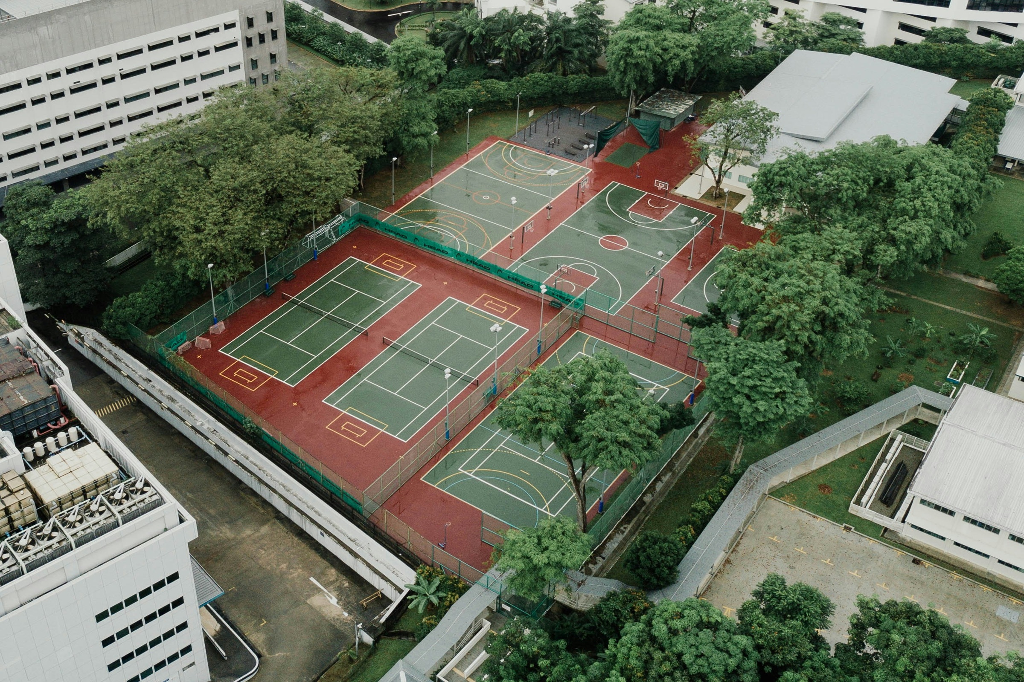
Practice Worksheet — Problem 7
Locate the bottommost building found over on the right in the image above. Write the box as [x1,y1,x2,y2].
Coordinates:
[896,389,1024,587]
